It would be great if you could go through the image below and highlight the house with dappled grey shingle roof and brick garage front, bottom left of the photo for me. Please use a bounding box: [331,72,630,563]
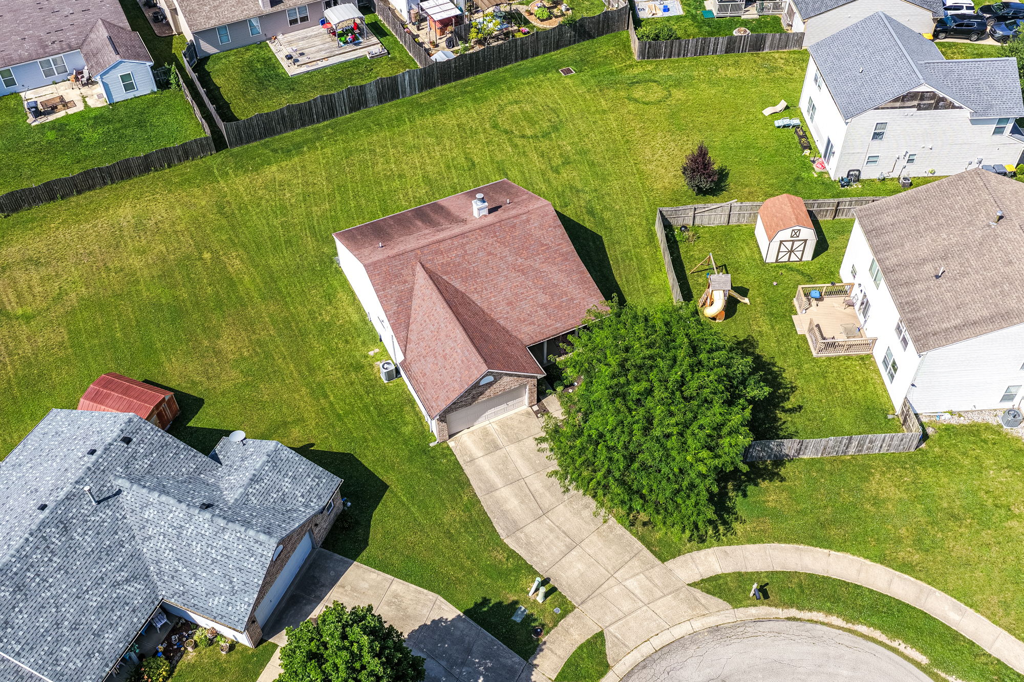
[0,411,346,682]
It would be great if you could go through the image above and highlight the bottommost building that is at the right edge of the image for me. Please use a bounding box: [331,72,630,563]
[839,167,1024,416]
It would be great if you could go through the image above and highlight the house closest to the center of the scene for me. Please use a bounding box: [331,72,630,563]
[329,177,612,449]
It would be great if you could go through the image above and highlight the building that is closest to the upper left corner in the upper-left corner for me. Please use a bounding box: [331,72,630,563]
[0,0,158,103]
